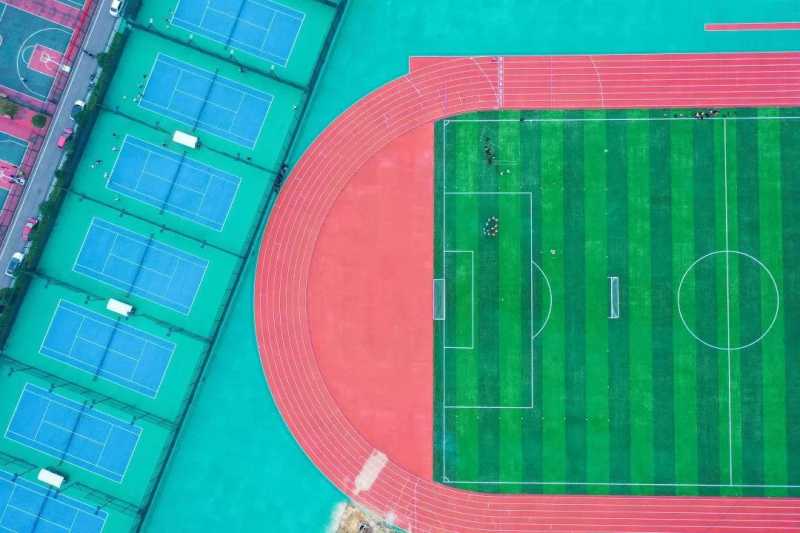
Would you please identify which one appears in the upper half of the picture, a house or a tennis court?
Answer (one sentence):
Visible in the upper half of the picture is a tennis court.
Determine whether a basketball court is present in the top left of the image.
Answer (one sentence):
Yes, a basketball court shows up in the top left of the image.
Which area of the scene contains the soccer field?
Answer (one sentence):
The soccer field is located in the right region of the scene.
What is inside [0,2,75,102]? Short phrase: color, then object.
blue basketball court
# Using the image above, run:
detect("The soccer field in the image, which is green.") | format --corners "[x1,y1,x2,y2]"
[433,106,800,499]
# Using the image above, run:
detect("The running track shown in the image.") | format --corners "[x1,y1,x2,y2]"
[253,52,800,533]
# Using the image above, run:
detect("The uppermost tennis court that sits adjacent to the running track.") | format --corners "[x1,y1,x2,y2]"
[130,0,335,89]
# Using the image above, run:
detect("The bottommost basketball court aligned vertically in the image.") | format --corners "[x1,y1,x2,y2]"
[0,131,30,216]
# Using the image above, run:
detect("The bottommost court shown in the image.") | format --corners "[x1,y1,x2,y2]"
[0,454,145,533]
